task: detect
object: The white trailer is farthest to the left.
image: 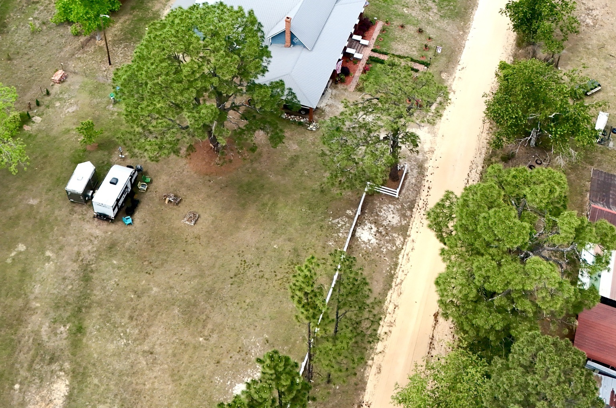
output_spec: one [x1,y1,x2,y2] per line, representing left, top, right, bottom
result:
[64,160,97,204]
